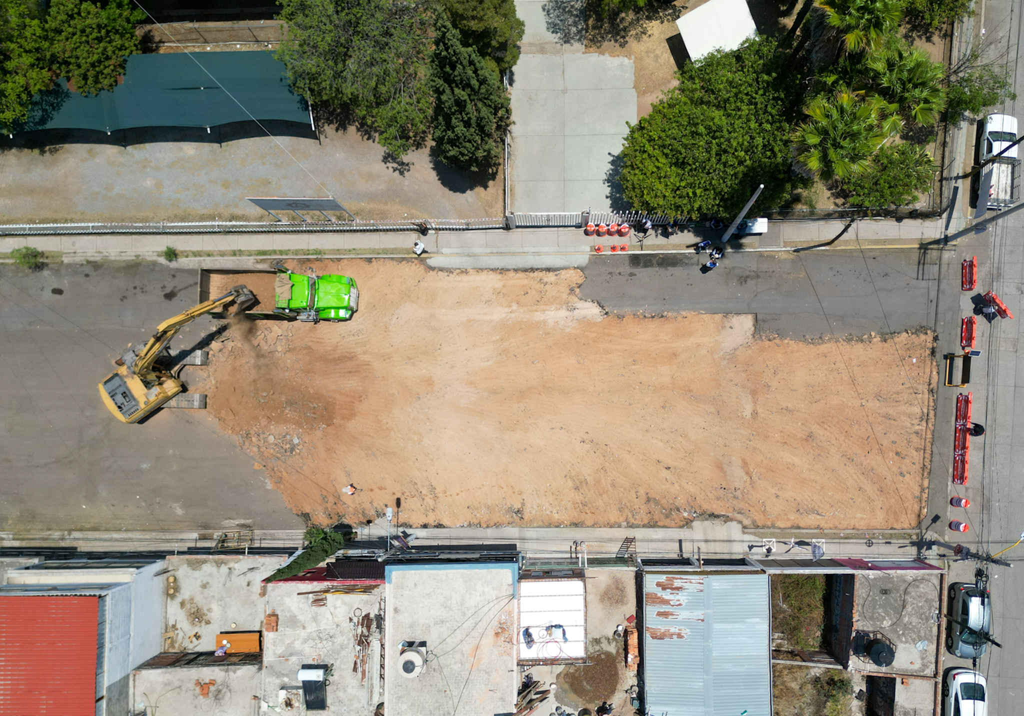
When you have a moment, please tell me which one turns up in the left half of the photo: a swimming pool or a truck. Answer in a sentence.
You can see a truck in the left half of the photo.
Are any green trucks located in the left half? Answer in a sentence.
Yes, looking in the left half, one can make out a green truck.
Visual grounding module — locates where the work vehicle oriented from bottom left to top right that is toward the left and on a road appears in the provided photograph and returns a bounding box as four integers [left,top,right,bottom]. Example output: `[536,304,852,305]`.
[100,286,250,422]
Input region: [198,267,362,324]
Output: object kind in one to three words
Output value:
truck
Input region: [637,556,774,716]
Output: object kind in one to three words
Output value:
house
